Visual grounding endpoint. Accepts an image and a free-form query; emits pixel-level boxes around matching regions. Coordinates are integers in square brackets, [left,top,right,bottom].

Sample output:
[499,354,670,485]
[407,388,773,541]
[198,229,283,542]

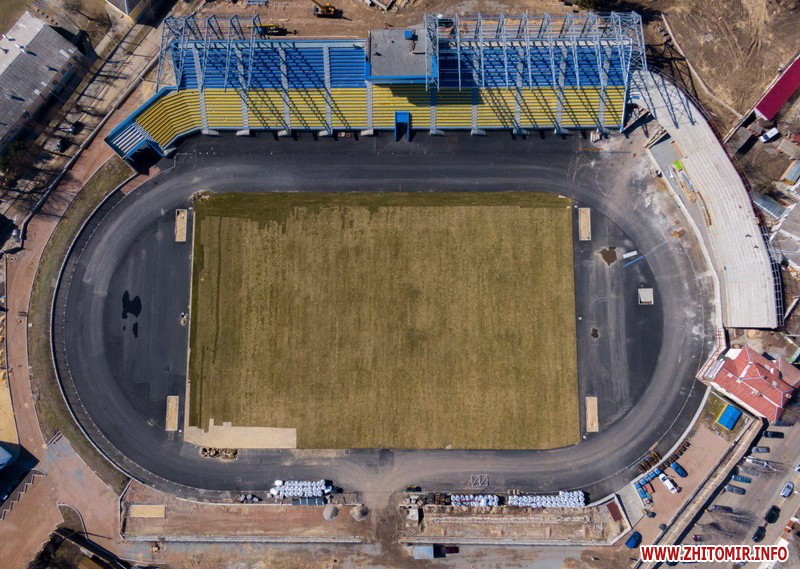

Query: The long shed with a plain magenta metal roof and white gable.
[748,54,800,119]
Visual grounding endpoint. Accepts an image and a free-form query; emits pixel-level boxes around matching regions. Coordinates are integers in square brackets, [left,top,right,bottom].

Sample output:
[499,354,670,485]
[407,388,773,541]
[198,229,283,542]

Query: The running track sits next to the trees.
[52,116,721,506]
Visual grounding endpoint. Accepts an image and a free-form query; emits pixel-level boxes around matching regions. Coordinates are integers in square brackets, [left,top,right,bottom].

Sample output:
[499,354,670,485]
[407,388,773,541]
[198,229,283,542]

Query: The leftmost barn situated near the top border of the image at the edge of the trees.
[0,13,84,156]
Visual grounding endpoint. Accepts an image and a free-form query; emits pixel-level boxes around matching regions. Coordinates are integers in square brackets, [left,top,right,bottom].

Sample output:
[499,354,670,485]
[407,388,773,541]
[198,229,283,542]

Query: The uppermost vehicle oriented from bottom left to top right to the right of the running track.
[761,124,785,141]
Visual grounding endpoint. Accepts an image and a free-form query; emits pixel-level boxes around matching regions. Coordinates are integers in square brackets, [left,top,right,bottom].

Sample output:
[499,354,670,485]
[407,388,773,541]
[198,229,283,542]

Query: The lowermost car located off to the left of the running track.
[7,224,20,244]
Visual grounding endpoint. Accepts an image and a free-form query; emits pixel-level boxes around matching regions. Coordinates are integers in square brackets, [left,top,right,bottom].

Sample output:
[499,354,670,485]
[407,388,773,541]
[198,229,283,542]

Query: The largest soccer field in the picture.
[184,194,580,449]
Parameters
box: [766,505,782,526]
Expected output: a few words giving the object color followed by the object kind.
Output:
black car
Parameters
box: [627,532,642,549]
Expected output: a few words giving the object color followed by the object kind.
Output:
blue car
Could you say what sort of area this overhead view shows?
sports ground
